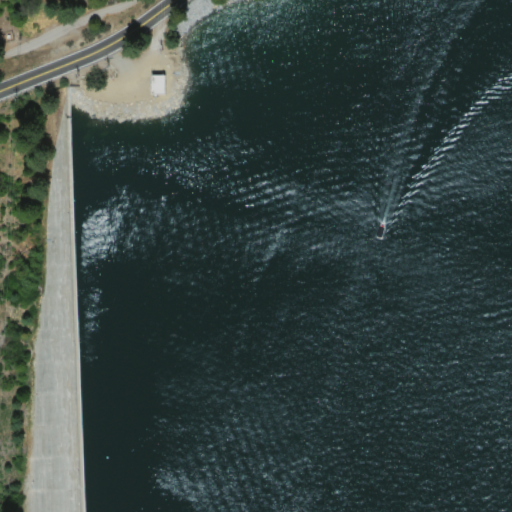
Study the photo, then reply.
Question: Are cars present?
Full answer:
No, the frame has no car in it.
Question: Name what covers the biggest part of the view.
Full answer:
The scene is dominated by water.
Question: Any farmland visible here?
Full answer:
No, the scene doesn't show any farmland.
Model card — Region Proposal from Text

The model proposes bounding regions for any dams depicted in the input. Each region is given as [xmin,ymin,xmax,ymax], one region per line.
[25,84,86,512]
